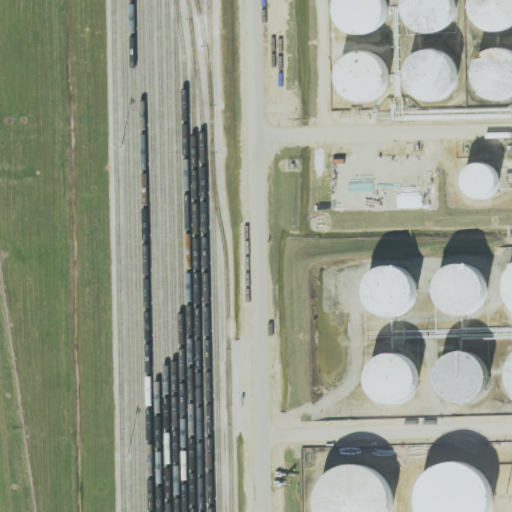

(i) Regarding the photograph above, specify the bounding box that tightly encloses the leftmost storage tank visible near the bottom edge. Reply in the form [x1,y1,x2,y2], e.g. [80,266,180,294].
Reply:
[311,464,392,512]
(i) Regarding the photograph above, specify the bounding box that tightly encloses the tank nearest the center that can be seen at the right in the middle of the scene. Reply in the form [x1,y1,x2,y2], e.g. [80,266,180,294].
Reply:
[360,264,418,318]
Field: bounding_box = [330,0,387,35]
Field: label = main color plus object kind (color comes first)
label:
white storage tank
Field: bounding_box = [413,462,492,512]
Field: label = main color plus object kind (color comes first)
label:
white storage tank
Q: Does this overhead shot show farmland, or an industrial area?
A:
industrial area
